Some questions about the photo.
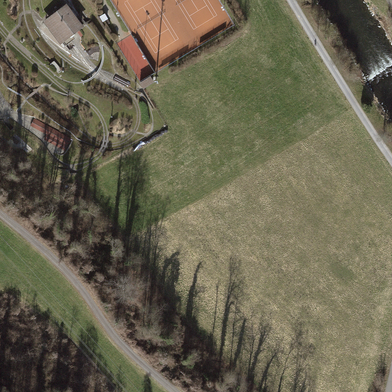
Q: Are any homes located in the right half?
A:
No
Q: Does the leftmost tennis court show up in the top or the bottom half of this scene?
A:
top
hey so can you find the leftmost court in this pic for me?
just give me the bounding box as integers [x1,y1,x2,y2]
[112,0,196,71]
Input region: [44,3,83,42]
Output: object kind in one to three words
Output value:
house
